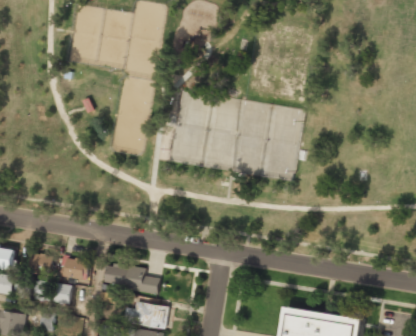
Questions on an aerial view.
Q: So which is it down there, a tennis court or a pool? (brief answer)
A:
tennis court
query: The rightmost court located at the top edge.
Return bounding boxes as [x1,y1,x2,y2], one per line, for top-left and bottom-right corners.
[126,0,166,78]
